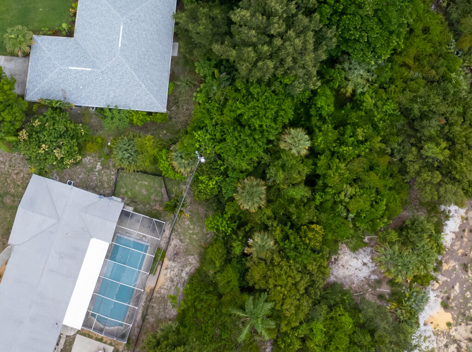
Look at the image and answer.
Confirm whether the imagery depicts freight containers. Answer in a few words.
No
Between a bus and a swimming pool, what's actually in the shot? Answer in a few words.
swimming pool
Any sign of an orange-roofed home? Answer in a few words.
No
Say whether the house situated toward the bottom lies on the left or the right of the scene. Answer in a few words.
left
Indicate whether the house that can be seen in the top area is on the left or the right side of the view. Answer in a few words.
left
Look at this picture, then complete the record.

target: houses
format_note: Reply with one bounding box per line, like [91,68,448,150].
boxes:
[25,0,176,113]
[0,175,125,352]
